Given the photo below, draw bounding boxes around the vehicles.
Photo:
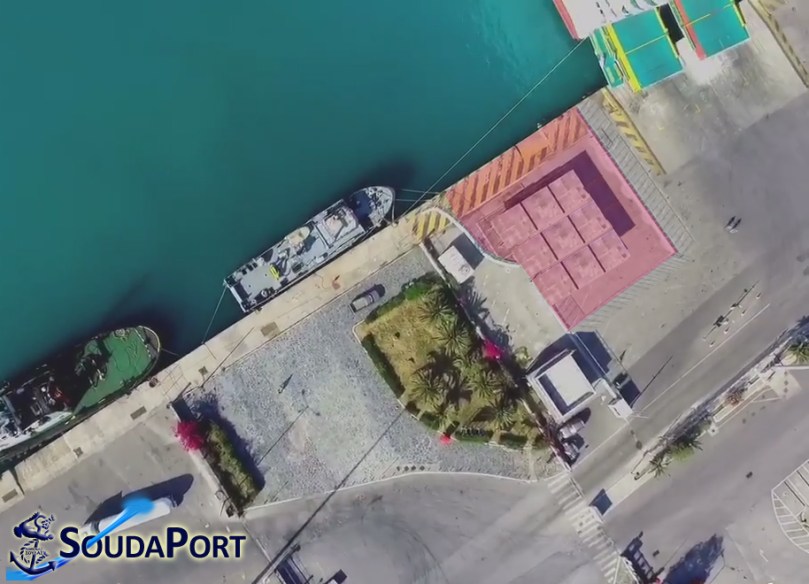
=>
[557,420,586,440]
[559,439,581,462]
[81,489,179,533]
[348,287,383,312]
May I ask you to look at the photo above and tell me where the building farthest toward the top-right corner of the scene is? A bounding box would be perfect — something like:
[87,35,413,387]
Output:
[480,170,630,321]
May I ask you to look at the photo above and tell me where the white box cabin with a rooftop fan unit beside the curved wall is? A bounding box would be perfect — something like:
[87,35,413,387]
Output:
[438,244,475,283]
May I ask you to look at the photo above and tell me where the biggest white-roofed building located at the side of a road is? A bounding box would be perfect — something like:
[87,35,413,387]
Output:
[525,332,596,429]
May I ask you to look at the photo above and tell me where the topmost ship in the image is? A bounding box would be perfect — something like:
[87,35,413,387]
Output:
[555,0,750,93]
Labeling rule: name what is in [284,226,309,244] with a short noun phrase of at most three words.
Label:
boat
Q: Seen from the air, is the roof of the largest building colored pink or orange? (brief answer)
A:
pink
